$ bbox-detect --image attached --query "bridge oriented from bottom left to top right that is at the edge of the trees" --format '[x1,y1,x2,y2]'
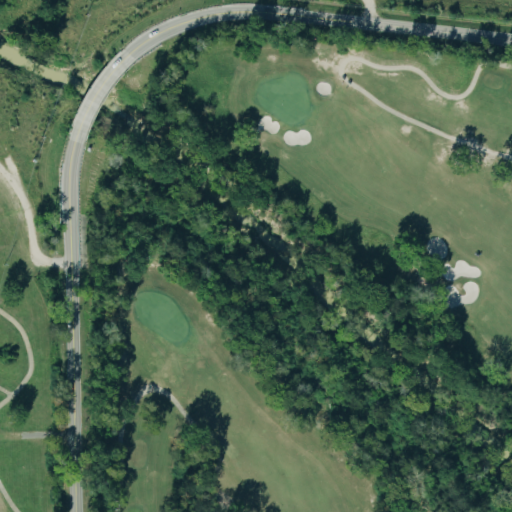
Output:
[70,48,135,142]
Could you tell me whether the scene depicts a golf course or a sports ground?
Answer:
golf course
